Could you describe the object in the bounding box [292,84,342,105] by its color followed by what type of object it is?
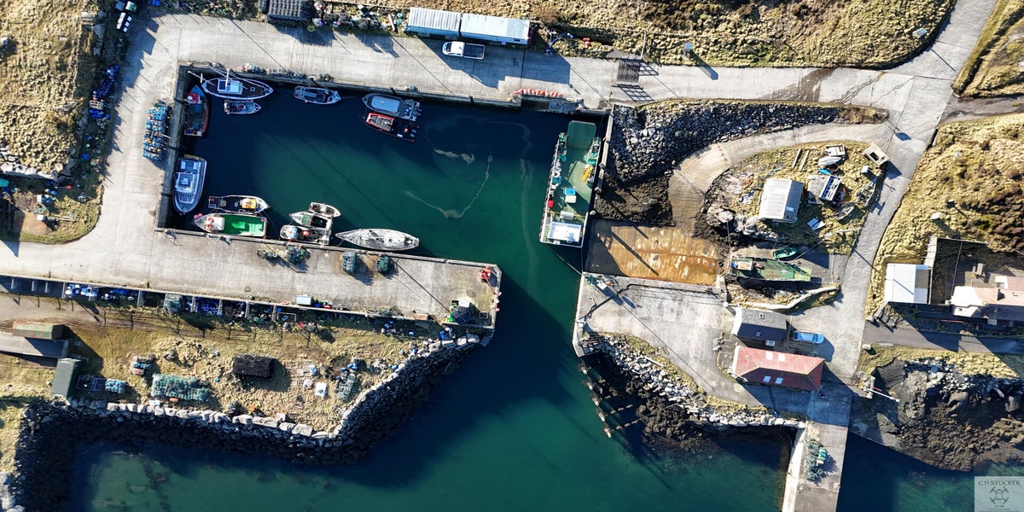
blue boat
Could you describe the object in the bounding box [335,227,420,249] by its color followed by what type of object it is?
white boat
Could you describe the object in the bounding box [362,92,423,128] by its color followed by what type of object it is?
blue boat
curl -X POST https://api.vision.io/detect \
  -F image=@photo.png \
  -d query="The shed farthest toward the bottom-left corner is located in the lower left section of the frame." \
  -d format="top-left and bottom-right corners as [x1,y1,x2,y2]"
[51,358,86,398]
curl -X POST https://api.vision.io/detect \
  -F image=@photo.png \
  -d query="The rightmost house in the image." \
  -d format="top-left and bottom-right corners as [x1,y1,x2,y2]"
[941,275,1024,324]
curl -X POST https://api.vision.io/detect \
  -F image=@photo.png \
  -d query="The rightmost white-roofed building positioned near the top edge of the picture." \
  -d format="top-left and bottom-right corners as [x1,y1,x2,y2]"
[461,13,531,45]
